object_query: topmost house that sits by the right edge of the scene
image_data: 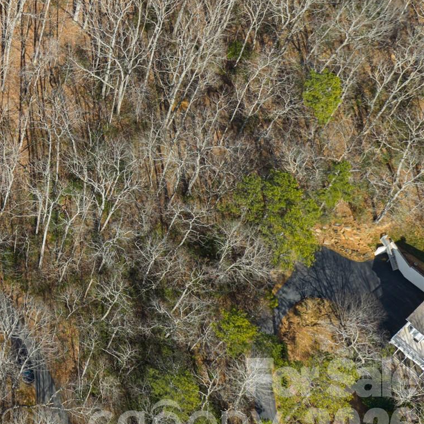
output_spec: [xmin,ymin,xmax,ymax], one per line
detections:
[366,235,424,298]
